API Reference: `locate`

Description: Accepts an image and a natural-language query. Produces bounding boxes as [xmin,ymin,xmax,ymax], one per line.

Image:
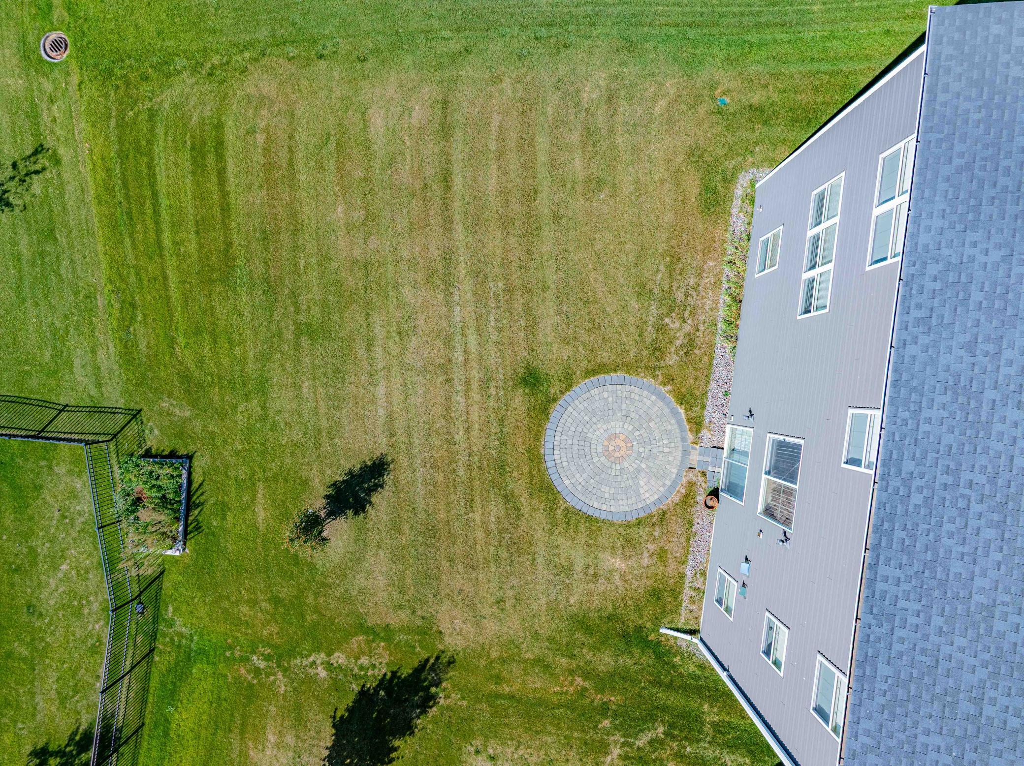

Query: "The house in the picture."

[662,1,1024,766]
